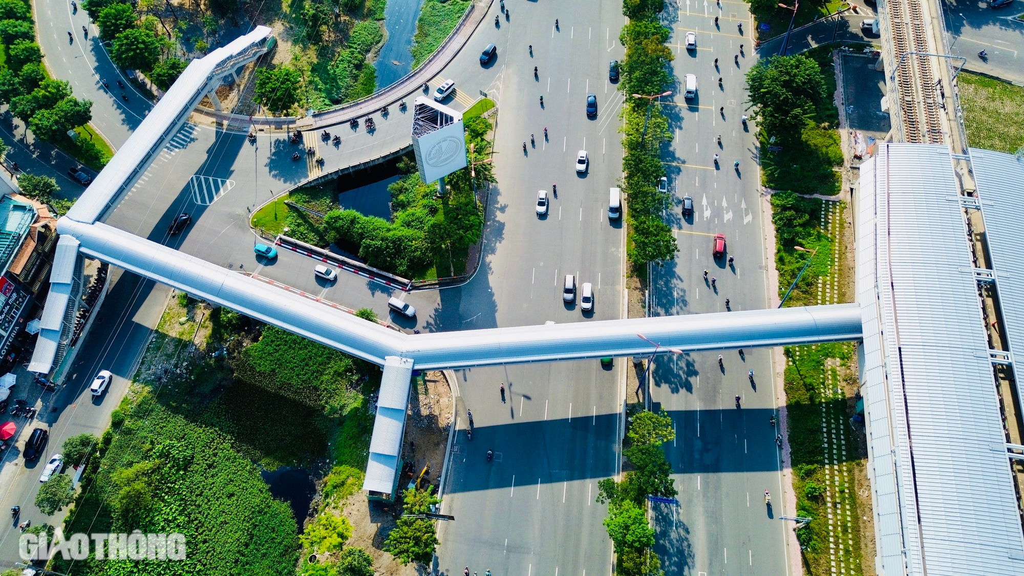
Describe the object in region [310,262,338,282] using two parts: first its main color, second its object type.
white car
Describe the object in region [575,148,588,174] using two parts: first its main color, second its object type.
white vehicle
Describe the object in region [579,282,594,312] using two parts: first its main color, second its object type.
white car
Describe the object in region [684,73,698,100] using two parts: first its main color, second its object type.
white vehicle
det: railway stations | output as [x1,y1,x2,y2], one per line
[849,136,1024,576]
